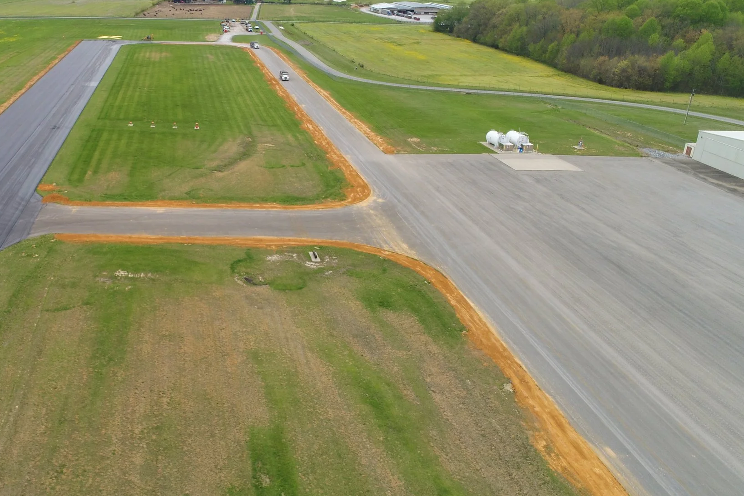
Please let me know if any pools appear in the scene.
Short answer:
No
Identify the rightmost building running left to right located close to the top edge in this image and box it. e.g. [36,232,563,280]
[373,0,439,16]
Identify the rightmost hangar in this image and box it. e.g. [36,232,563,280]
[689,125,744,179]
